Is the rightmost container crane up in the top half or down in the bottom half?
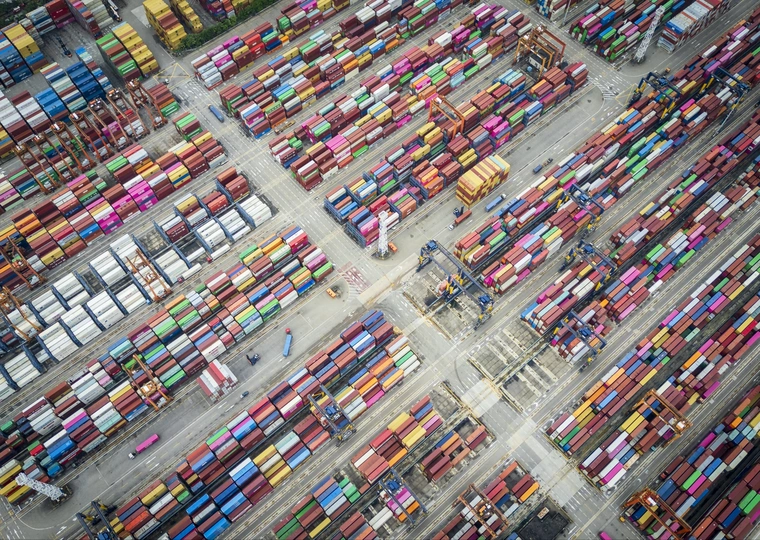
top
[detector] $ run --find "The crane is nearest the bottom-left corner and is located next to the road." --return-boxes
[75,500,123,540]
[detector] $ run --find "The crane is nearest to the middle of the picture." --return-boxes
[420,240,467,297]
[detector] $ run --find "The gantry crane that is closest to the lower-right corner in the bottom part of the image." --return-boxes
[622,486,692,540]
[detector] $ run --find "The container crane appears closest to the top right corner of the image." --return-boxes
[698,66,751,118]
